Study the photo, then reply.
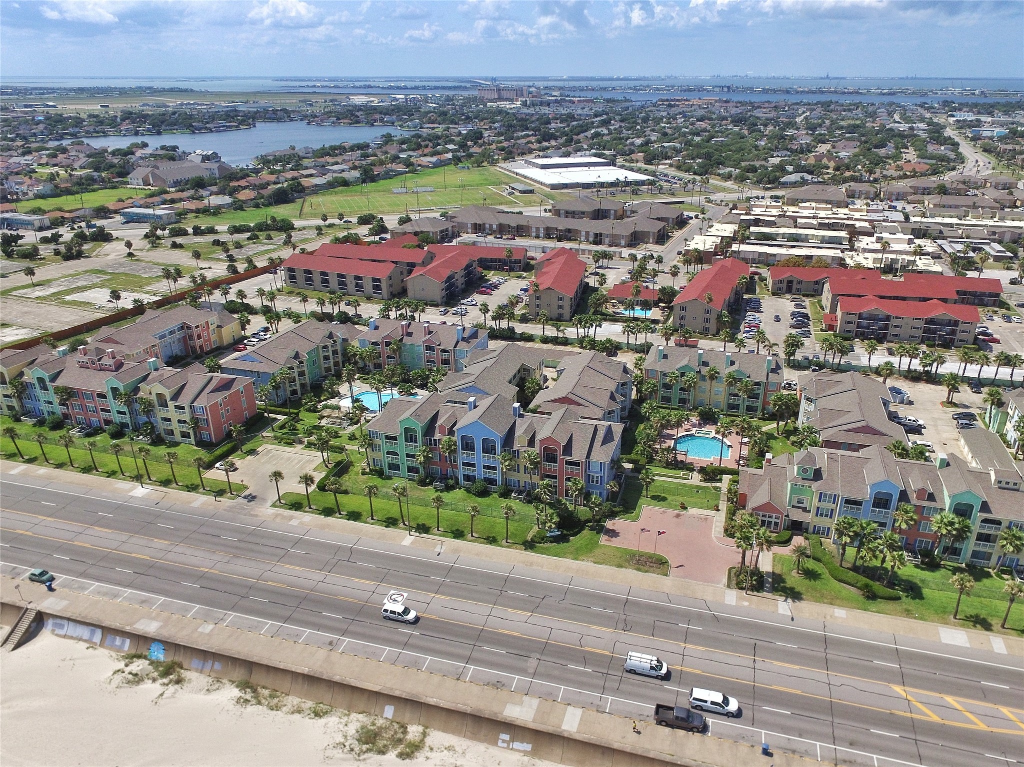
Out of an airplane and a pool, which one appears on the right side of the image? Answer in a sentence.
You can see a pool on the right side of the image.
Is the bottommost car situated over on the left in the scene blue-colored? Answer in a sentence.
No, the bottommost car situated over on the left is white.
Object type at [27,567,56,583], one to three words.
car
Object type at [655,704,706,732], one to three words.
vehicle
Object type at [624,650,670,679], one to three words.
vehicle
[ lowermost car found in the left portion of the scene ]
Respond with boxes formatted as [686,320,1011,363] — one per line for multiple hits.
[381,600,418,622]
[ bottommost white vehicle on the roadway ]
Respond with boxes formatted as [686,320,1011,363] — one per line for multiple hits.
[690,687,740,717]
